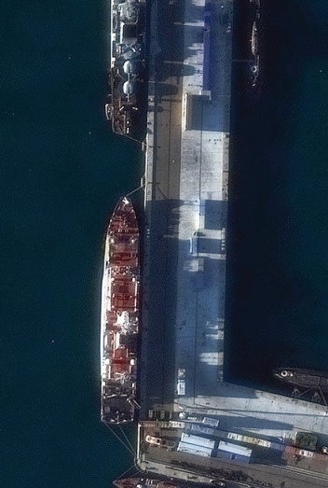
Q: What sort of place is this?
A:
port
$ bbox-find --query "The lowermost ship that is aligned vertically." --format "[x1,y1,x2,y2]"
[101,197,140,423]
